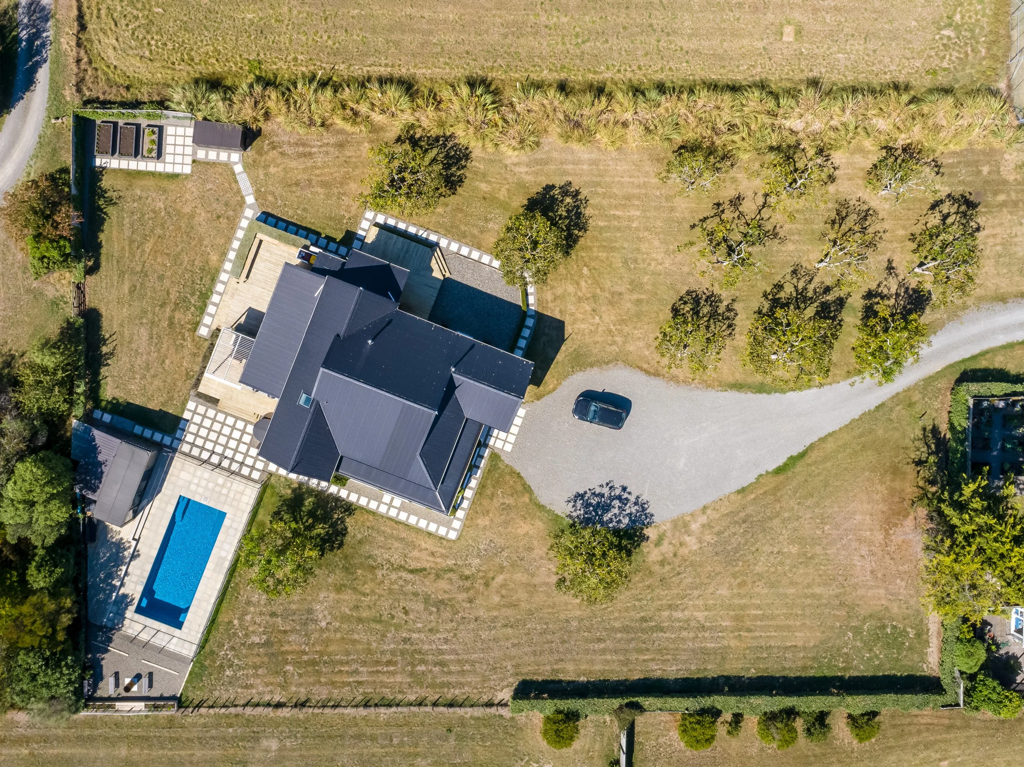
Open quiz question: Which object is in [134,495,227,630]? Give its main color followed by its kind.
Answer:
blue swimming pool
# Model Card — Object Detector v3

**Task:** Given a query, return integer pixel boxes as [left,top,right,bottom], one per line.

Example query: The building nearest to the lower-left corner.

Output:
[72,420,162,529]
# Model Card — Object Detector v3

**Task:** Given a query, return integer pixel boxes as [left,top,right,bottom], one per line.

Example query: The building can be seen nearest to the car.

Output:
[239,248,537,518]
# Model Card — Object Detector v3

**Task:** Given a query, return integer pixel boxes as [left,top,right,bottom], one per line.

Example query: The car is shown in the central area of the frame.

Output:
[571,396,628,430]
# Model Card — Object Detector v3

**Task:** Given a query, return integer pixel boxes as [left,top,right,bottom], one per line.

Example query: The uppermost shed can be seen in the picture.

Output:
[193,121,253,155]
